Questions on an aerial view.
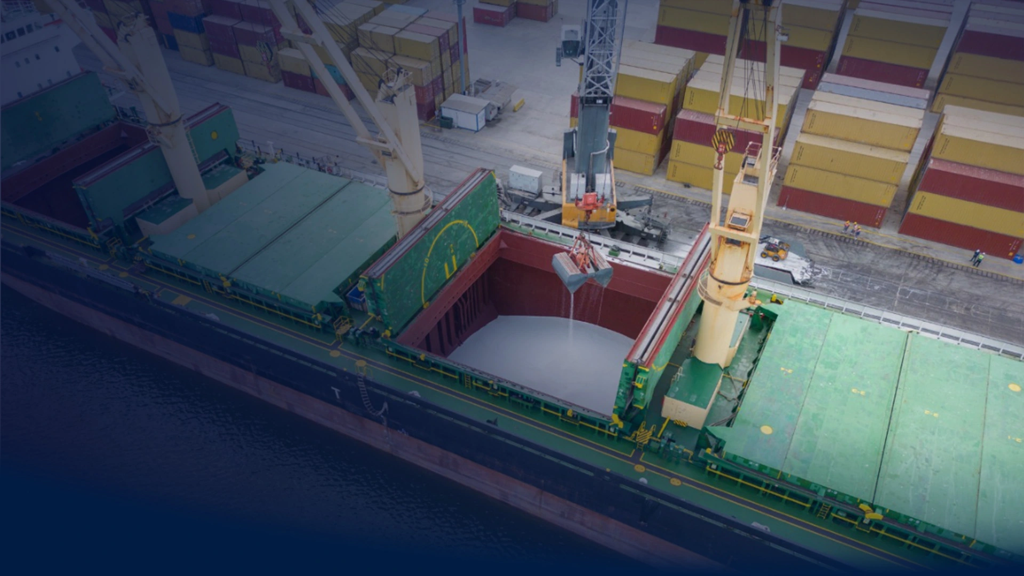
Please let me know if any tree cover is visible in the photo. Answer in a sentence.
No, the scene doesn't show any tree cover.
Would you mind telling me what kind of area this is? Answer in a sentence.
The picture captures a port.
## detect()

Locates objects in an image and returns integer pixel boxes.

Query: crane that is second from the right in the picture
[498,0,671,255]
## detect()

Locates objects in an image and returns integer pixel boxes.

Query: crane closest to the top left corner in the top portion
[47,0,213,212]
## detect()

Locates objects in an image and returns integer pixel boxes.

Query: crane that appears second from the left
[263,0,437,242]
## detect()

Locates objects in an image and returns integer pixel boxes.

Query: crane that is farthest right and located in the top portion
[688,0,794,366]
